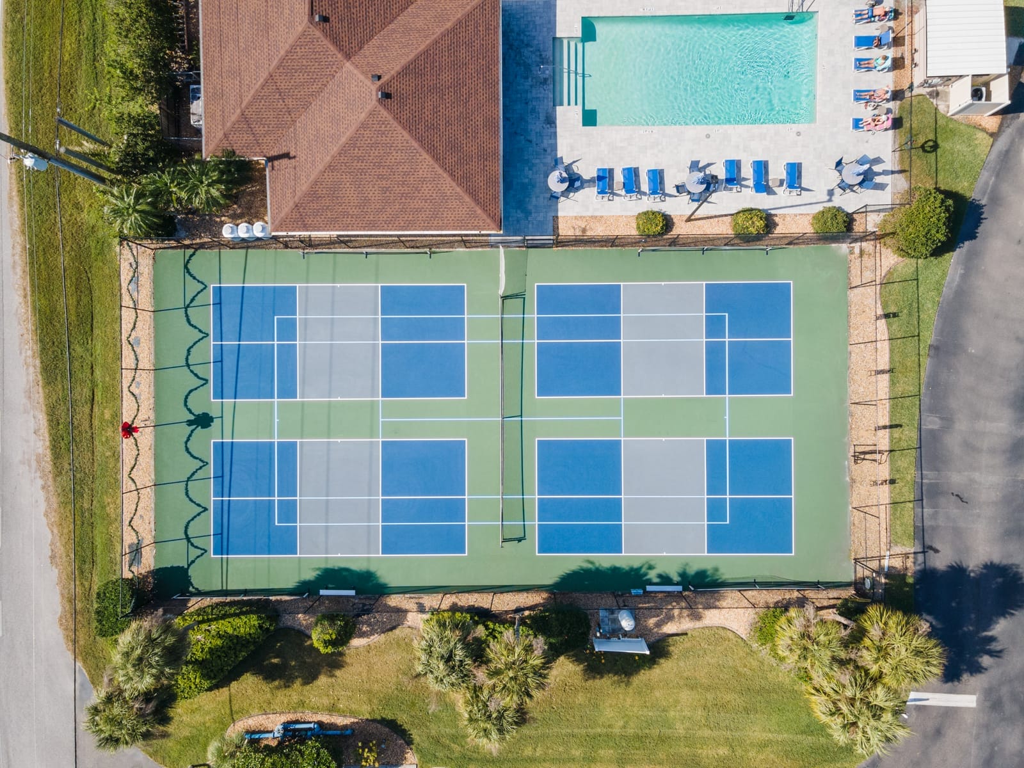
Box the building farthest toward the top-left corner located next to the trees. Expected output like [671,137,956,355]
[201,0,504,234]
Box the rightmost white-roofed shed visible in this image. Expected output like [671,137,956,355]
[914,0,1009,88]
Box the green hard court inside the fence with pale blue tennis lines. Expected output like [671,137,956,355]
[152,243,855,598]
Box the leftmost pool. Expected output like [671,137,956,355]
[546,0,819,126]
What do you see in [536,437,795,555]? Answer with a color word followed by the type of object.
blue sports court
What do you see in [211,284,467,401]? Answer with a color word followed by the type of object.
blue sports court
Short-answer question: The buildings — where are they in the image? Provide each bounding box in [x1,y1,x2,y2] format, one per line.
[914,0,1009,88]
[201,0,504,234]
